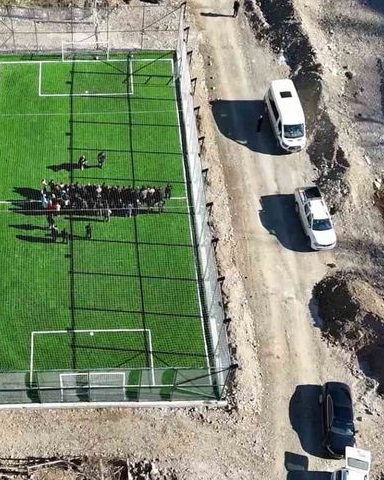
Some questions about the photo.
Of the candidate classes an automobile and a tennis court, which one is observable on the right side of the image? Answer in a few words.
automobile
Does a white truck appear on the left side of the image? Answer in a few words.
No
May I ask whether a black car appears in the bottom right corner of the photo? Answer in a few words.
Yes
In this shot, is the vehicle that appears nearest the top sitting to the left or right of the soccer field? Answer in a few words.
right of it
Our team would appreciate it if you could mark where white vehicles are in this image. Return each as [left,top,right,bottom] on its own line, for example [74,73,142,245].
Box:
[294,186,337,252]
[266,81,308,151]
[335,452,371,480]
